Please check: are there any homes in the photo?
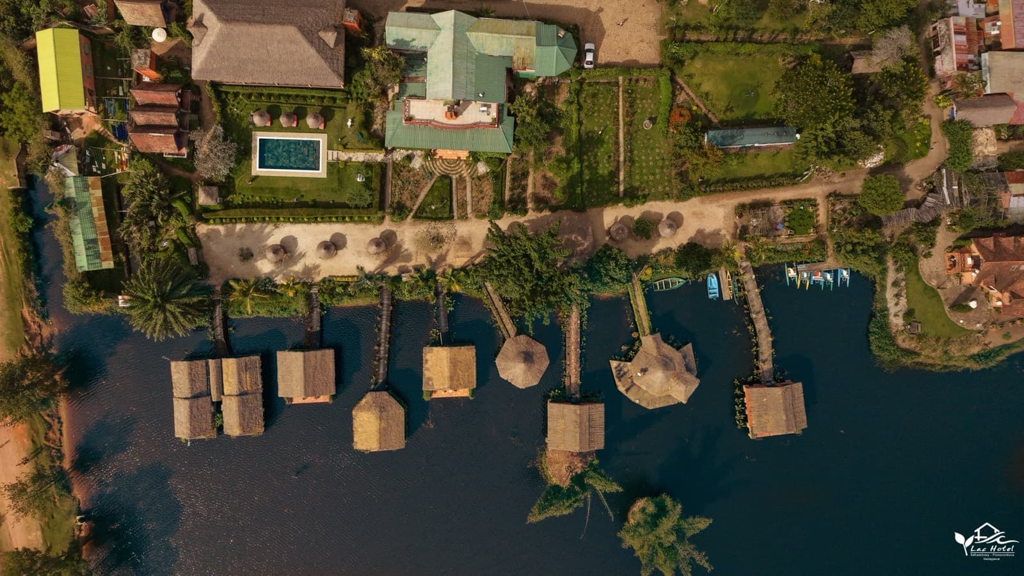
Yes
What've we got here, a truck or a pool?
pool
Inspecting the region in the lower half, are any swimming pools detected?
No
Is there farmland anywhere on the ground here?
No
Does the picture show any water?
Yes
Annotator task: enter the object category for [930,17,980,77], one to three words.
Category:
house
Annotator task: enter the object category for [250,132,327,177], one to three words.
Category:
swimming pool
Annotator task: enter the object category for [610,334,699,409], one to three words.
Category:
building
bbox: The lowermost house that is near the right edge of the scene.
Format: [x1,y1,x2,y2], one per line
[944,232,1024,317]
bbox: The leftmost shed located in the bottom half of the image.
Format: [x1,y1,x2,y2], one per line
[170,355,270,439]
